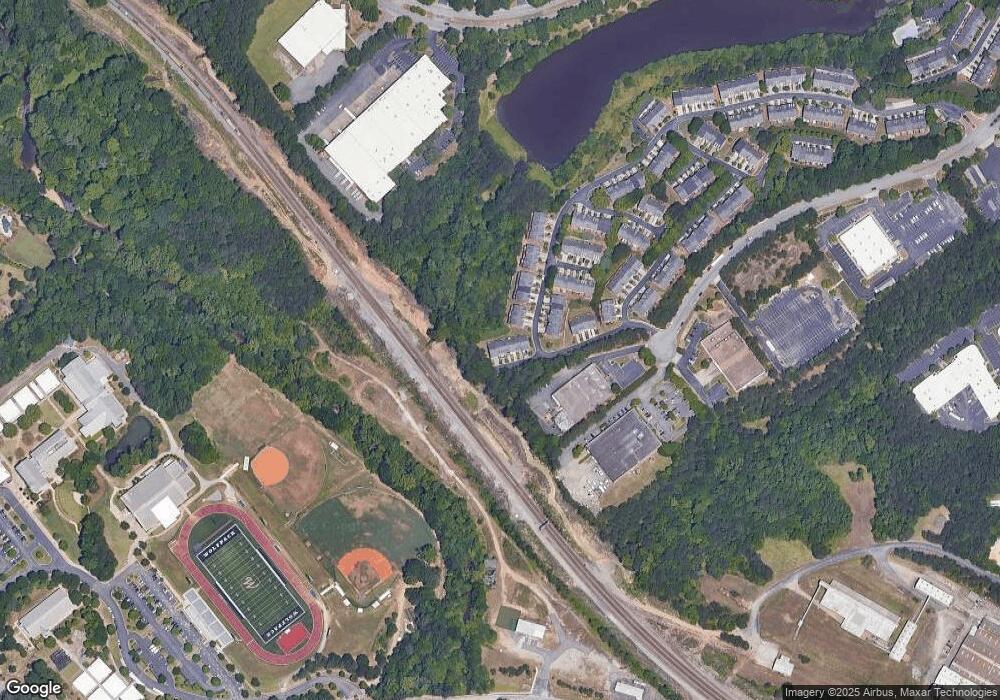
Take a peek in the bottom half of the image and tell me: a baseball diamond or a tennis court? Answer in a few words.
baseball diamond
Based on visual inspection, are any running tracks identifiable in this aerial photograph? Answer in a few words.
Yes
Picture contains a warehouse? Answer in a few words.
Yes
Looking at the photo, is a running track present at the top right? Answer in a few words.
No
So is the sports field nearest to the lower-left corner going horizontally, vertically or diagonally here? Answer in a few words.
diagonally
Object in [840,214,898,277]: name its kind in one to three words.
building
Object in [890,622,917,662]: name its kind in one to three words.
building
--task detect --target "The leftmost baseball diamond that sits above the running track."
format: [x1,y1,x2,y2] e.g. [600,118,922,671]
[251,446,289,486]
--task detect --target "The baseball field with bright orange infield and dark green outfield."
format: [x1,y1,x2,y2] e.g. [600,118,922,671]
[297,488,436,606]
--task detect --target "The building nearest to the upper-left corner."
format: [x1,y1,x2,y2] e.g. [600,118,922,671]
[277,0,346,67]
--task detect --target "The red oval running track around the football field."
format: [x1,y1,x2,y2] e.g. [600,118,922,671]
[178,504,322,664]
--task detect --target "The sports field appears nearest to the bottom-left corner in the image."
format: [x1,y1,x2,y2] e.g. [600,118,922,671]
[188,514,312,654]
